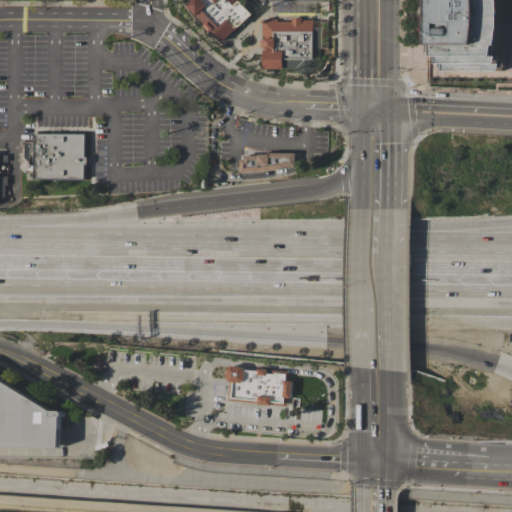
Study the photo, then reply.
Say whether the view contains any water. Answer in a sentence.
No, there's no water in this view.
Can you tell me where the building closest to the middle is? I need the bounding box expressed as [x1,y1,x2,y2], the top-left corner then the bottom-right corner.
[238,146,296,174]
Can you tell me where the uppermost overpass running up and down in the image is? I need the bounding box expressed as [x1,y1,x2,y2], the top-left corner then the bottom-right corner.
[345,204,410,373]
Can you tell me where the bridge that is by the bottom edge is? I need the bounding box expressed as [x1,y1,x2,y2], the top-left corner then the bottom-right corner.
[349,480,410,512]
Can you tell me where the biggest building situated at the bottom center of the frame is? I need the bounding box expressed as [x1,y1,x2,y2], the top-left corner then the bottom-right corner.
[226,367,301,407]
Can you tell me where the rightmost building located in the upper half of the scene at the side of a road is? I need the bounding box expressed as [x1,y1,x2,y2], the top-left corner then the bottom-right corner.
[418,0,496,71]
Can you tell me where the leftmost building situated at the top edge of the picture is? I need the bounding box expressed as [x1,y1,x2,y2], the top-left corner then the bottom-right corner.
[184,0,254,42]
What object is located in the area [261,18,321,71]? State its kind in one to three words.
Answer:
building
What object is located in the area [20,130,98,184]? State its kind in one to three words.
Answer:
building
